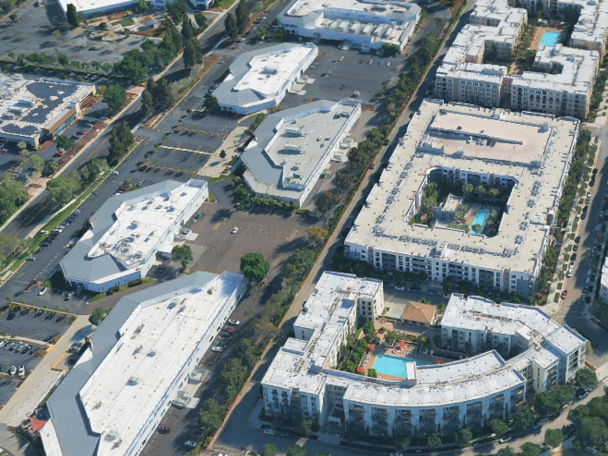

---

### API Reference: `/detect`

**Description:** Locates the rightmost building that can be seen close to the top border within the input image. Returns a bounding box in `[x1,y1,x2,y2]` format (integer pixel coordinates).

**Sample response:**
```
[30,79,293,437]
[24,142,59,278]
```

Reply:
[436,0,608,119]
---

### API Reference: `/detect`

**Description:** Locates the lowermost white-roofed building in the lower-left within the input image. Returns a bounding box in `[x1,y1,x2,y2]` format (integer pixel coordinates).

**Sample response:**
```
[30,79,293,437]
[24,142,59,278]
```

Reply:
[40,270,248,456]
